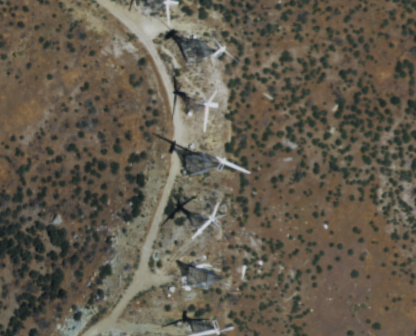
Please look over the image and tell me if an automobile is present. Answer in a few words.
No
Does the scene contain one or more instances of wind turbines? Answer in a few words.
Yes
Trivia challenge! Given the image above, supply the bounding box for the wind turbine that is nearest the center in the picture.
[184,152,248,177]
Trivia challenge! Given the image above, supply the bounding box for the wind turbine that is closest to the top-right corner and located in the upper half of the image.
[185,33,246,64]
